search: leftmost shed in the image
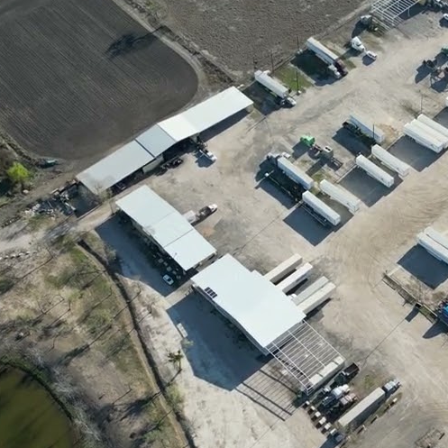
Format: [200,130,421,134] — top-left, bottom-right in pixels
[77,141,154,203]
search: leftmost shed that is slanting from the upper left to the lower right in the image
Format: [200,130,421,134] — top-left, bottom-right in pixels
[116,186,216,277]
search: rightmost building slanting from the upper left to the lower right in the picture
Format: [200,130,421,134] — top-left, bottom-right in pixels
[191,254,305,357]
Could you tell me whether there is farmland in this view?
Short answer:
Yes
